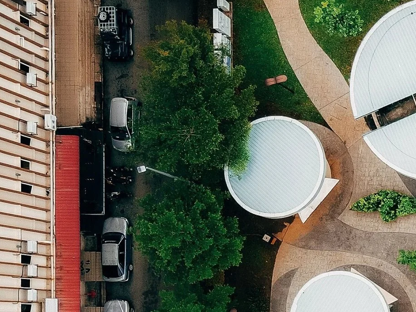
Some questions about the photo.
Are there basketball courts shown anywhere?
No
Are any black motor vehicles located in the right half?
No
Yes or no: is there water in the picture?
No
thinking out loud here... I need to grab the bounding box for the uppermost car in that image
[100,1,139,63]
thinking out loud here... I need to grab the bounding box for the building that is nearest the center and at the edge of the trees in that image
[223,116,340,224]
